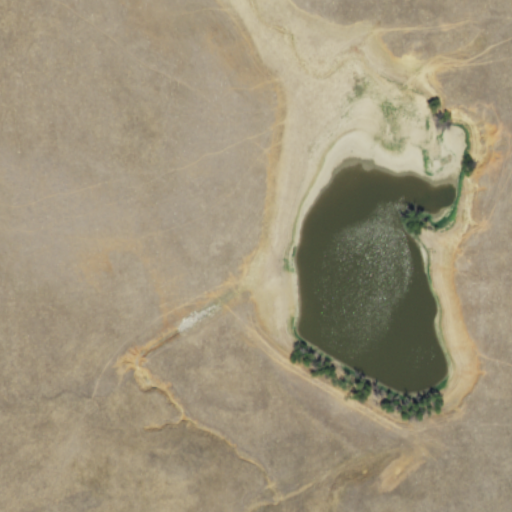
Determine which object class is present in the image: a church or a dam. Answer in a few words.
dam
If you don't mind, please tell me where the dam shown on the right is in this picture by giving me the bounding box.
[212,291,430,442]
